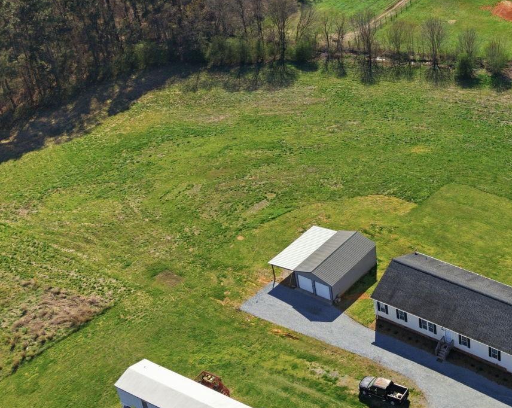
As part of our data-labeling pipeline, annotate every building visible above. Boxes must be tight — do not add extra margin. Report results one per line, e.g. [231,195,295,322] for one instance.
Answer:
[371,248,512,374]
[268,226,377,304]
[115,359,252,408]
